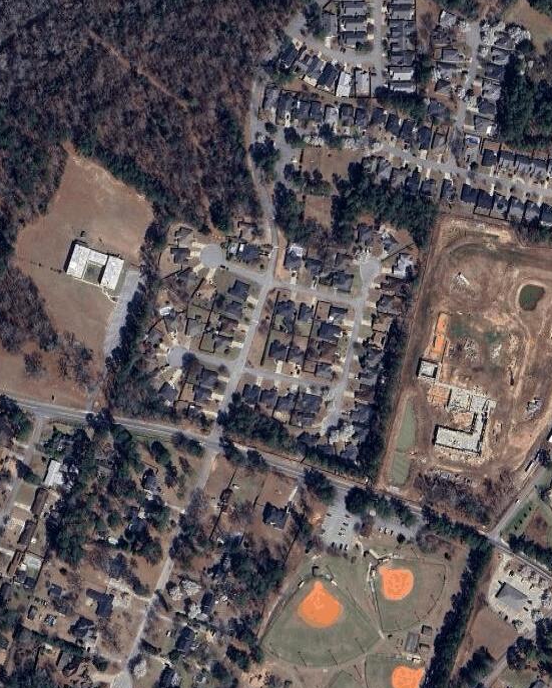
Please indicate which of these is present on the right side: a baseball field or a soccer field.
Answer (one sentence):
What appears on the right side is a baseball field.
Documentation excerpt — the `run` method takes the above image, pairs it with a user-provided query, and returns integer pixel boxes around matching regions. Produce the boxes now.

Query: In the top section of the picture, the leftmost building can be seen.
[67,244,124,290]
